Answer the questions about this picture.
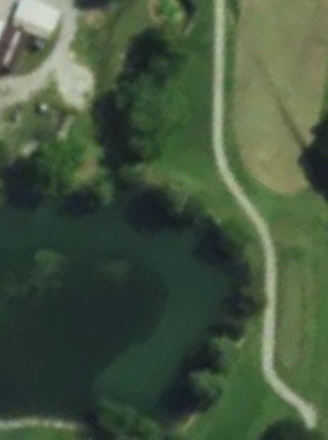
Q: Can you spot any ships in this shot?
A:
No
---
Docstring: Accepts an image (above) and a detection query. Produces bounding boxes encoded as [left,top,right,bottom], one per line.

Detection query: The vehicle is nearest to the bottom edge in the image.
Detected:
[36,100,49,117]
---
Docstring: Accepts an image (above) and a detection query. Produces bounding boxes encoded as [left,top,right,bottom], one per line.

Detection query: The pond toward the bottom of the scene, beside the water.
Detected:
[0,192,238,420]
